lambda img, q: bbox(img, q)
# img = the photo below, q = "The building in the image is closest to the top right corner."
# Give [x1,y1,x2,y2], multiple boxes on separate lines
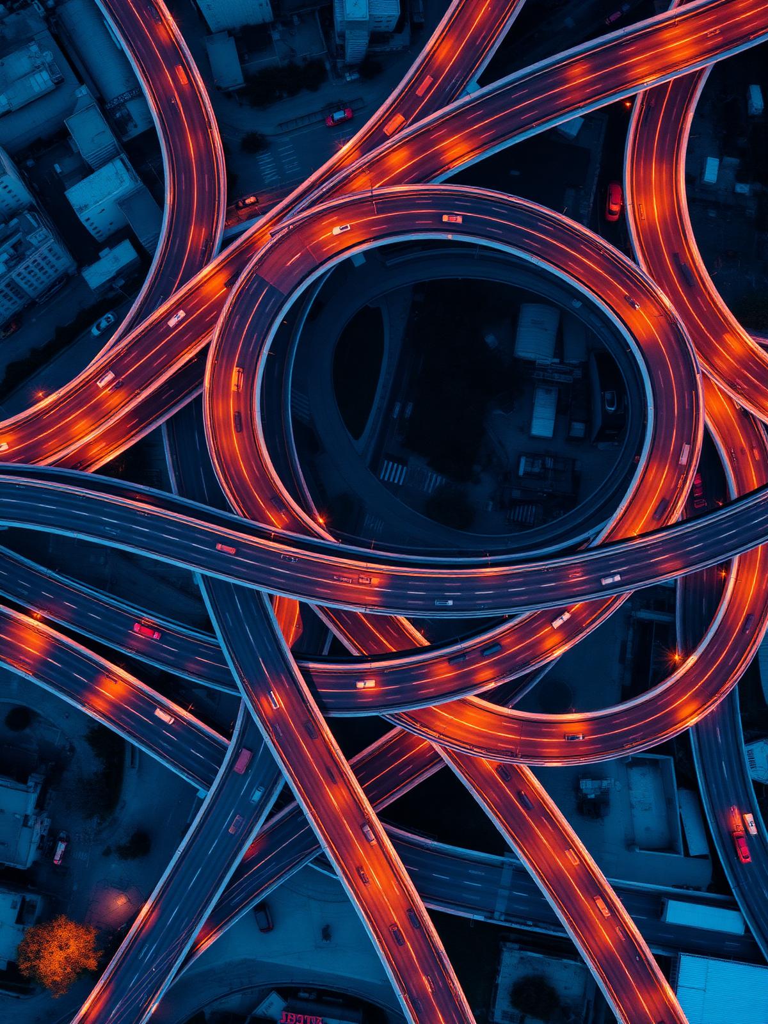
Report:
[552,118,583,145]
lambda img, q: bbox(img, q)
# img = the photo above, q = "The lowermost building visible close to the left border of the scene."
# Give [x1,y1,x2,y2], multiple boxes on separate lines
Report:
[0,876,53,969]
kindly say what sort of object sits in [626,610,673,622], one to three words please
building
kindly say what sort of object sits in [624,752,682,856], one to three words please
building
